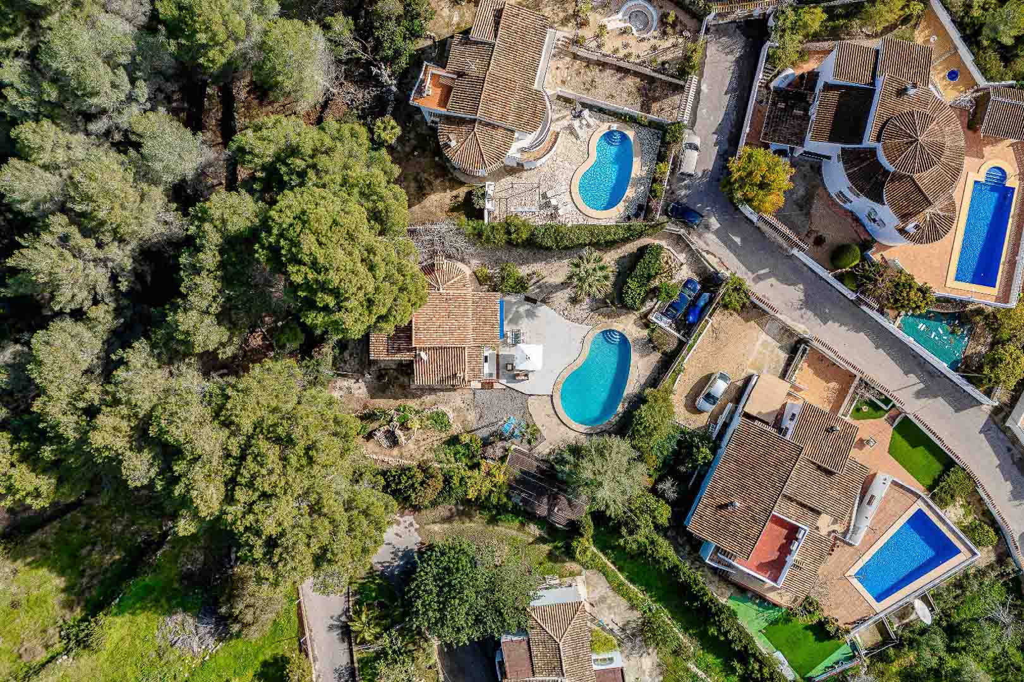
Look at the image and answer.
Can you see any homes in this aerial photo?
Yes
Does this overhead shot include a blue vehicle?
Yes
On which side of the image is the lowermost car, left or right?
right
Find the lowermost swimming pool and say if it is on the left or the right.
right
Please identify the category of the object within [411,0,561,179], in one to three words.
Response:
house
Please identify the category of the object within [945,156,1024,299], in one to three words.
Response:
swimming pool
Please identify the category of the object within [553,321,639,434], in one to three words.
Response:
swimming pool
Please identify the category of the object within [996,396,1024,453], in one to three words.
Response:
shed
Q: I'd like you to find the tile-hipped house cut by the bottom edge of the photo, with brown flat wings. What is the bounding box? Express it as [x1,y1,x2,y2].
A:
[501,572,625,682]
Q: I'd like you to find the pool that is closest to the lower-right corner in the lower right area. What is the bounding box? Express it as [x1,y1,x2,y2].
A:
[844,498,973,614]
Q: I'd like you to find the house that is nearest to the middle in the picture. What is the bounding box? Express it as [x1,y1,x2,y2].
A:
[369,247,504,388]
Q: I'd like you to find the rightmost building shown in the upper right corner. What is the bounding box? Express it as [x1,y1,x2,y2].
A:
[967,84,1024,148]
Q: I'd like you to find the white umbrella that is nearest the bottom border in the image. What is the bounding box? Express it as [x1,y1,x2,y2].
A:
[516,343,543,370]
